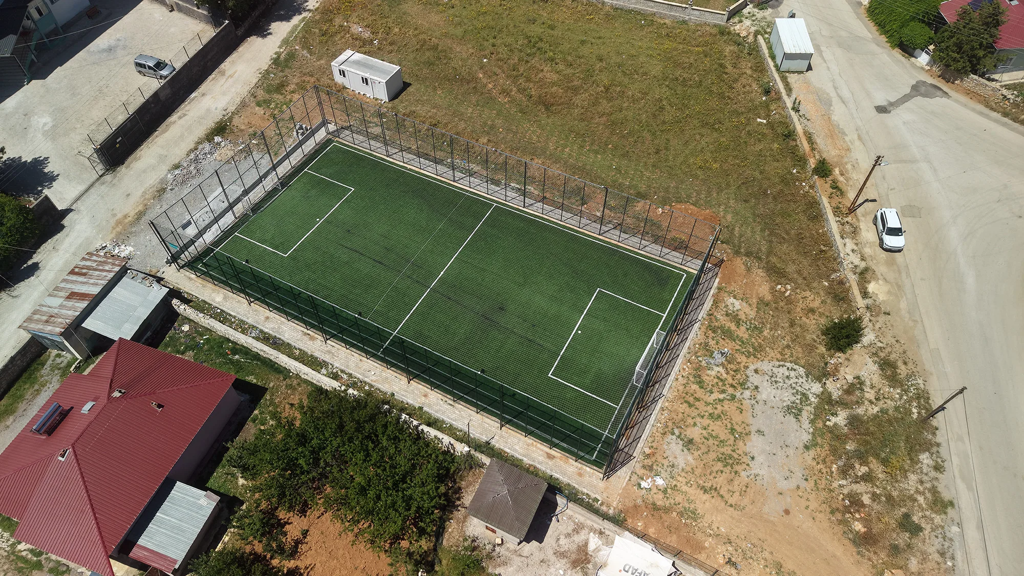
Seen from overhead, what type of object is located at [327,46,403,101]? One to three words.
building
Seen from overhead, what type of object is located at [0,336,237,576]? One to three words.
house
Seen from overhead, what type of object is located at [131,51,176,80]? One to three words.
van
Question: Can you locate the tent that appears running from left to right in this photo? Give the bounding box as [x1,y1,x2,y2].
[589,533,685,576]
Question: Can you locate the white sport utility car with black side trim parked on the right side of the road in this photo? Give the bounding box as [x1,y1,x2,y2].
[873,209,911,254]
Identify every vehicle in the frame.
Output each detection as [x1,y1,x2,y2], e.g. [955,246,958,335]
[873,209,911,254]
[131,51,176,80]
